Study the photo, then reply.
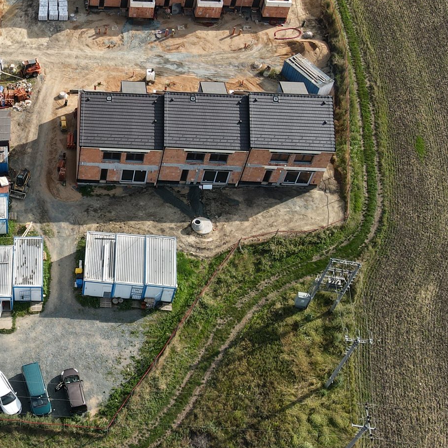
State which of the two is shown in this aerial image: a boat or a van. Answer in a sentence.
Visible in the photo is a van.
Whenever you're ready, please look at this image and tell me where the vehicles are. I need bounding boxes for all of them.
[53,367,89,417]
[9,167,31,198]
[0,369,21,421]
[15,57,42,78]
[20,358,52,421]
